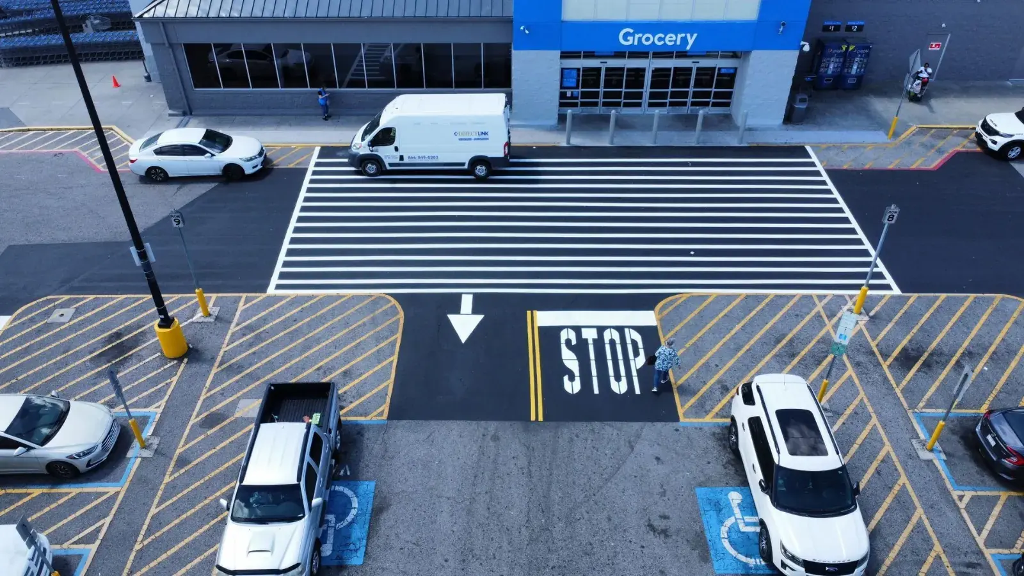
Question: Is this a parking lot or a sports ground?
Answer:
parking lot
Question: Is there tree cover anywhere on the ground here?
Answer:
No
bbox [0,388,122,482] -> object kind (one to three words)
car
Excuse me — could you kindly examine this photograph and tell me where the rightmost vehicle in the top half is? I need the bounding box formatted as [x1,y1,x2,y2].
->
[973,106,1024,162]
